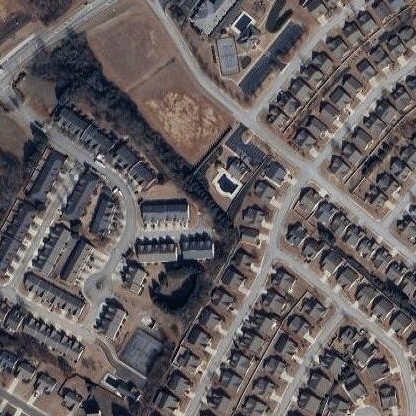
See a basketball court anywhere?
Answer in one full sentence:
No, no basketball court is visible in the scene.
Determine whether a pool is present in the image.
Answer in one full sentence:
Yes, a pool is visible in the scene.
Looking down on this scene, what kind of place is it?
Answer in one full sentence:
It's a residential area.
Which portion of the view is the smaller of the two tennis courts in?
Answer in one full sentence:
Look in the top portion of the view to spot the smaller of the two tennis courts.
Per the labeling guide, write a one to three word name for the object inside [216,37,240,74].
tennis court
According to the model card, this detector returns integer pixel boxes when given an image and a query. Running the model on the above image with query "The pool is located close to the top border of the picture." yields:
[230,11,257,40]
